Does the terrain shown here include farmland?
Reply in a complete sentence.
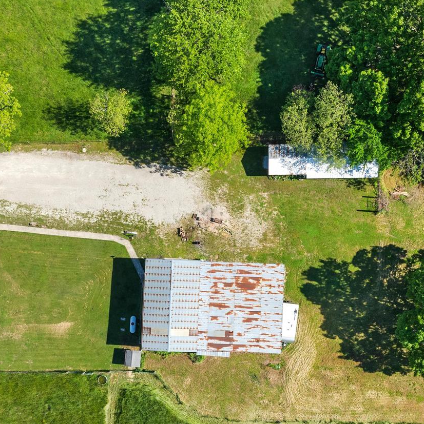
Yes, some farmland is visible.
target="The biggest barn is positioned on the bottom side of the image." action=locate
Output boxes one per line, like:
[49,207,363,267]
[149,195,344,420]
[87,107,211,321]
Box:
[142,259,284,357]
